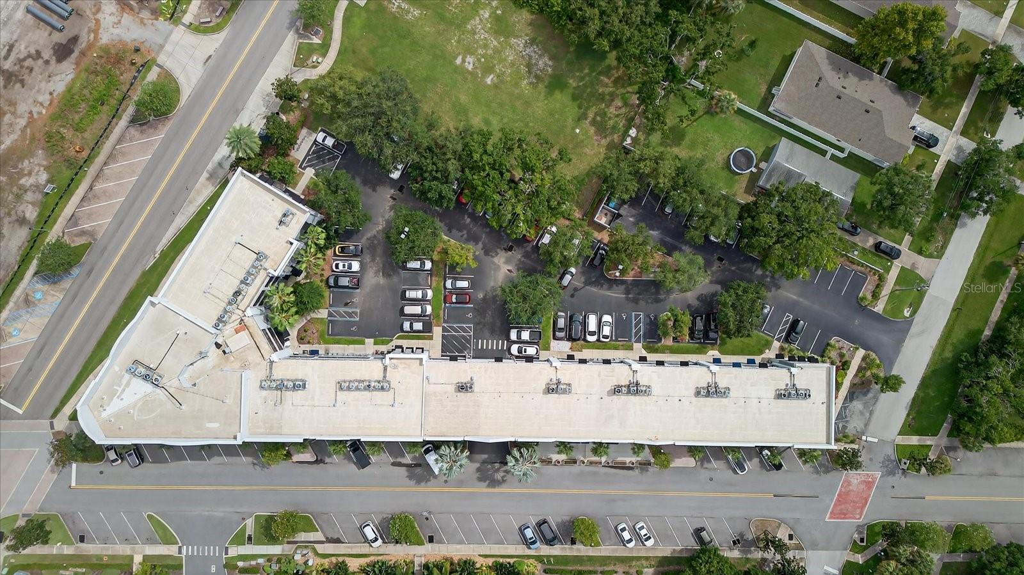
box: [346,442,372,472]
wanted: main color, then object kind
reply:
black vehicle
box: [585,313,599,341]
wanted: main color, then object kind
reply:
white car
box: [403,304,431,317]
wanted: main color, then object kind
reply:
white vehicle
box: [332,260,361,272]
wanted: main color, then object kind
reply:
white vehicle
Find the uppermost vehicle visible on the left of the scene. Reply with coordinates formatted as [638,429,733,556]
[315,131,347,155]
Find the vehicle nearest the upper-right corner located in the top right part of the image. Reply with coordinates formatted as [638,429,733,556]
[911,126,939,147]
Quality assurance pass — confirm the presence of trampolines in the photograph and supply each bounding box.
[730,147,756,173]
